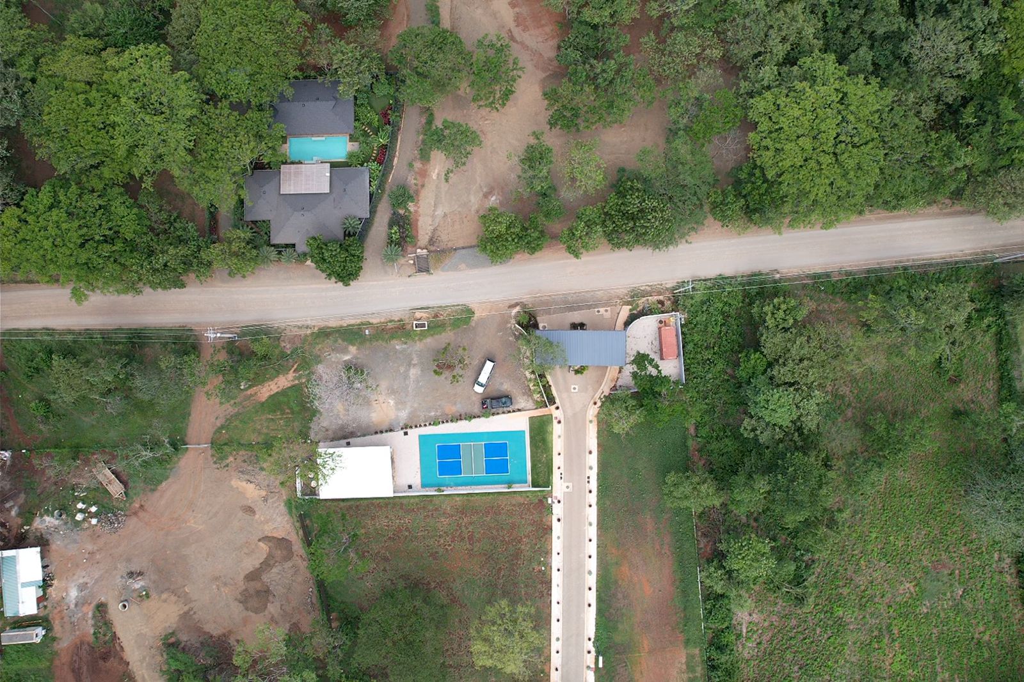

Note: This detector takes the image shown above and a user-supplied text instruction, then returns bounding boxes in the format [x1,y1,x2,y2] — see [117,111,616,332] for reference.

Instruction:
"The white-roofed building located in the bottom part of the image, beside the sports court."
[318,445,395,500]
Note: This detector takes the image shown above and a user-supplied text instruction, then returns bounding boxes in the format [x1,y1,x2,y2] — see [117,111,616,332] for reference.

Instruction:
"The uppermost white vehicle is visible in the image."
[475,359,495,393]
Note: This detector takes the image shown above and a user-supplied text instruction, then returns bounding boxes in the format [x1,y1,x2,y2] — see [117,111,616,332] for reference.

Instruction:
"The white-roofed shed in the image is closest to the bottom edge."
[0,545,51,617]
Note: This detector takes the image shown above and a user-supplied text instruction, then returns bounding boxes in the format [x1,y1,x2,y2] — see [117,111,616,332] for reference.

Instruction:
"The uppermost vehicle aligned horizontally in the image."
[481,397,512,410]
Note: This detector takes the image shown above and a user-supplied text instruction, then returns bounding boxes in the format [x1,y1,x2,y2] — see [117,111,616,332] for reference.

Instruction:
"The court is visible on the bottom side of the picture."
[419,430,529,489]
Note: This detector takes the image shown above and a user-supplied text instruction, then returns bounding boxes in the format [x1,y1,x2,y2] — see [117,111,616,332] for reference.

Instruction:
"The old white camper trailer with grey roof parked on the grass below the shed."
[1,627,49,645]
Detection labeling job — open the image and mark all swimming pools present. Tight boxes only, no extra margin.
[287,134,349,162]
